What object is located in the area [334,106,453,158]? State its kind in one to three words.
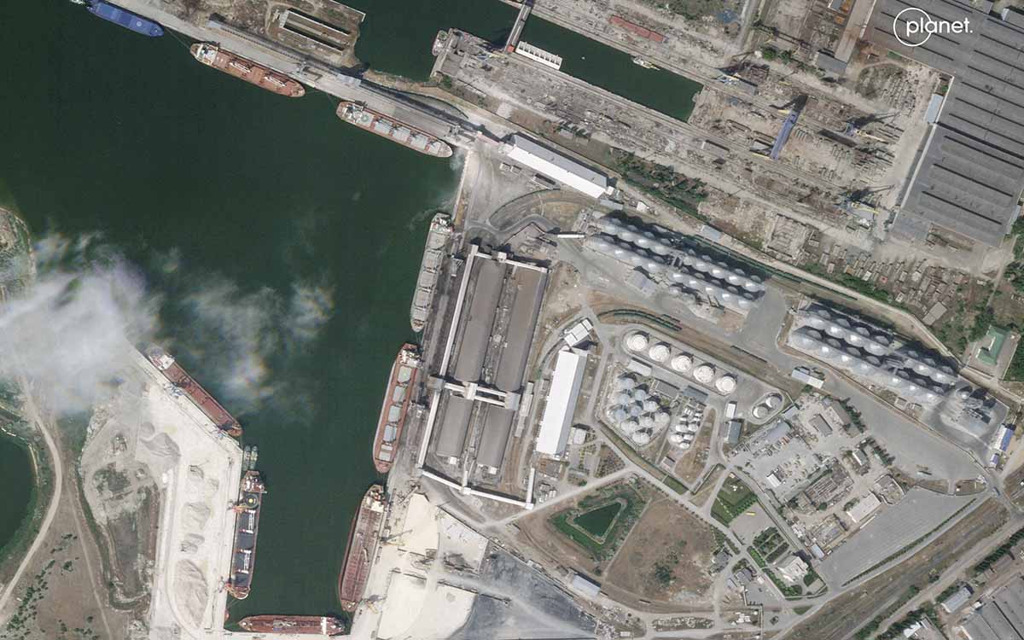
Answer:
ship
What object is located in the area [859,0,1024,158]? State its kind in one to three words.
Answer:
building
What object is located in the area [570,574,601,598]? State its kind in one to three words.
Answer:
shed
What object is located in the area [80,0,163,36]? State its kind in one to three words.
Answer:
ship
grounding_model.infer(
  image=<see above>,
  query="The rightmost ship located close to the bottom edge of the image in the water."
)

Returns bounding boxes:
[341,482,384,612]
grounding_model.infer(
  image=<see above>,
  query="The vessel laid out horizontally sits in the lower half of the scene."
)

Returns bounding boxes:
[238,614,346,635]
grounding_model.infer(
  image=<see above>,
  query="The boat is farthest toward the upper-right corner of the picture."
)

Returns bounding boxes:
[631,56,660,70]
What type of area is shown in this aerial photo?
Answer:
port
